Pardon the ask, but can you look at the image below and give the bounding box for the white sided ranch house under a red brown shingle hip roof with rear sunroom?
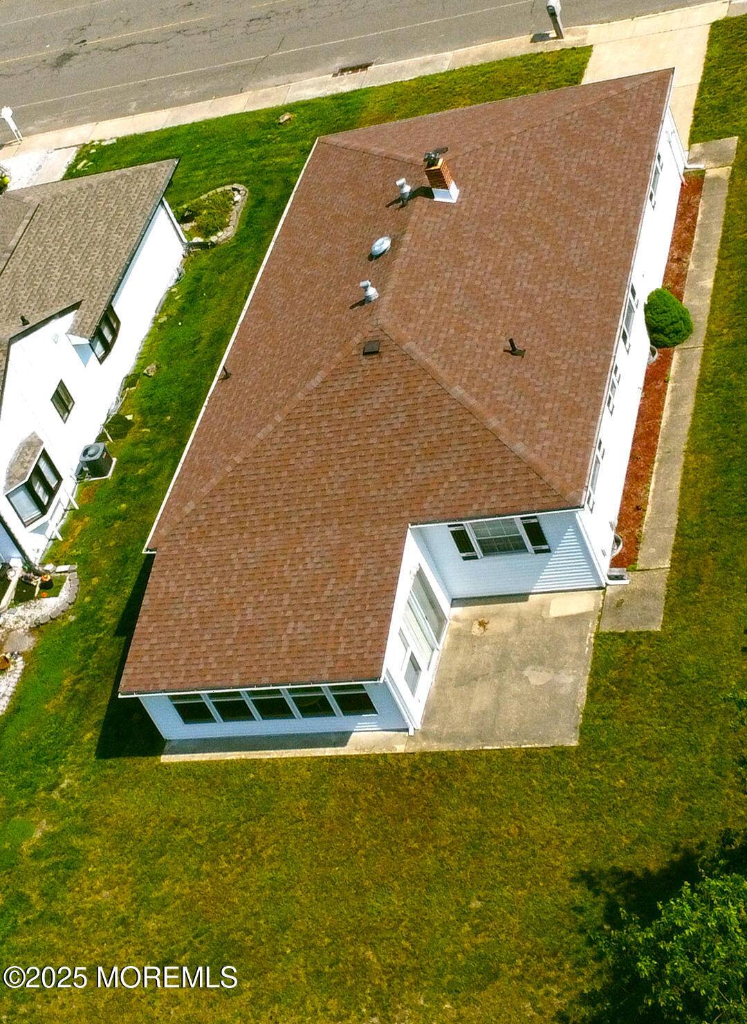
[118,69,709,741]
